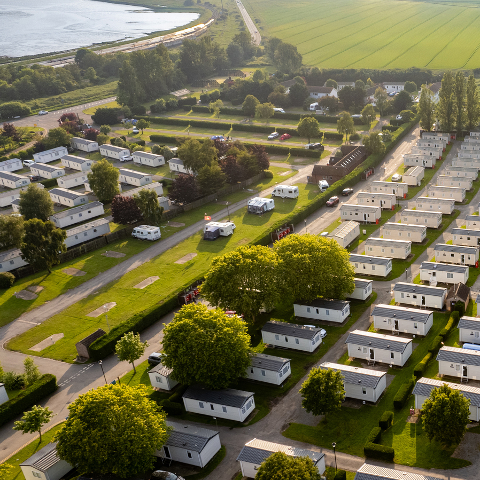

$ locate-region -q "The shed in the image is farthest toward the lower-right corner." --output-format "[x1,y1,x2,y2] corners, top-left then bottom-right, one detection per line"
[442,279,475,315]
